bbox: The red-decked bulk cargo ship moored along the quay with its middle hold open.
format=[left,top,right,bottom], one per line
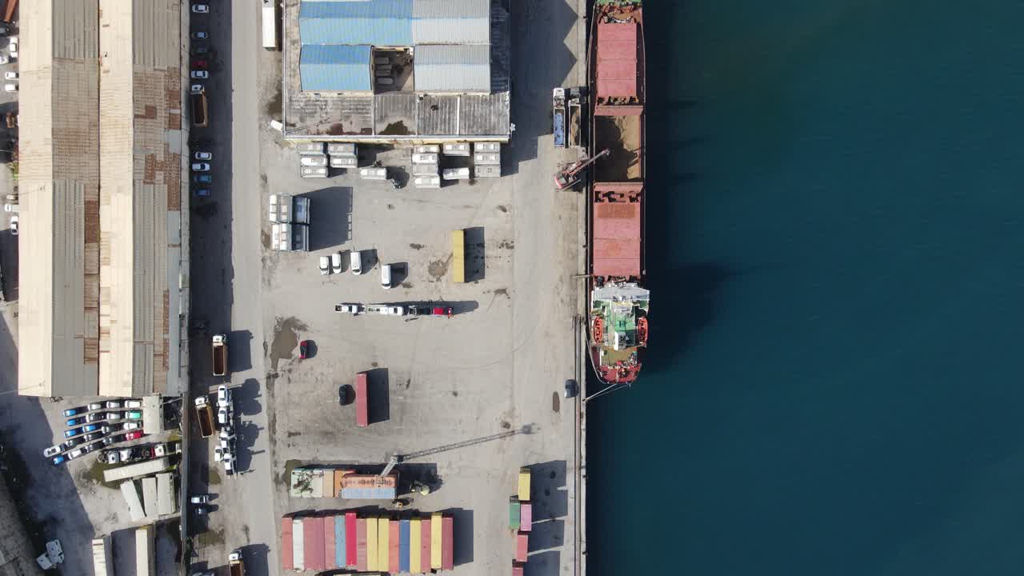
[587,0,649,384]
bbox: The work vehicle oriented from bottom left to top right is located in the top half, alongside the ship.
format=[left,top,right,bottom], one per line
[551,146,613,191]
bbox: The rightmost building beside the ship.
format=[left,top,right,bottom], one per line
[284,0,513,141]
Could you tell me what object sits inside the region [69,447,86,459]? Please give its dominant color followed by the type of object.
white vehicle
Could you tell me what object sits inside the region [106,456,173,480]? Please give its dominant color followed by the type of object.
white trailer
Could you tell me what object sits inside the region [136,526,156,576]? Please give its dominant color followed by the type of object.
white trailer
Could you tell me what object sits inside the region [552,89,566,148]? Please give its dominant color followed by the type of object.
white vehicle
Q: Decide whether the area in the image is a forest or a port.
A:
port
